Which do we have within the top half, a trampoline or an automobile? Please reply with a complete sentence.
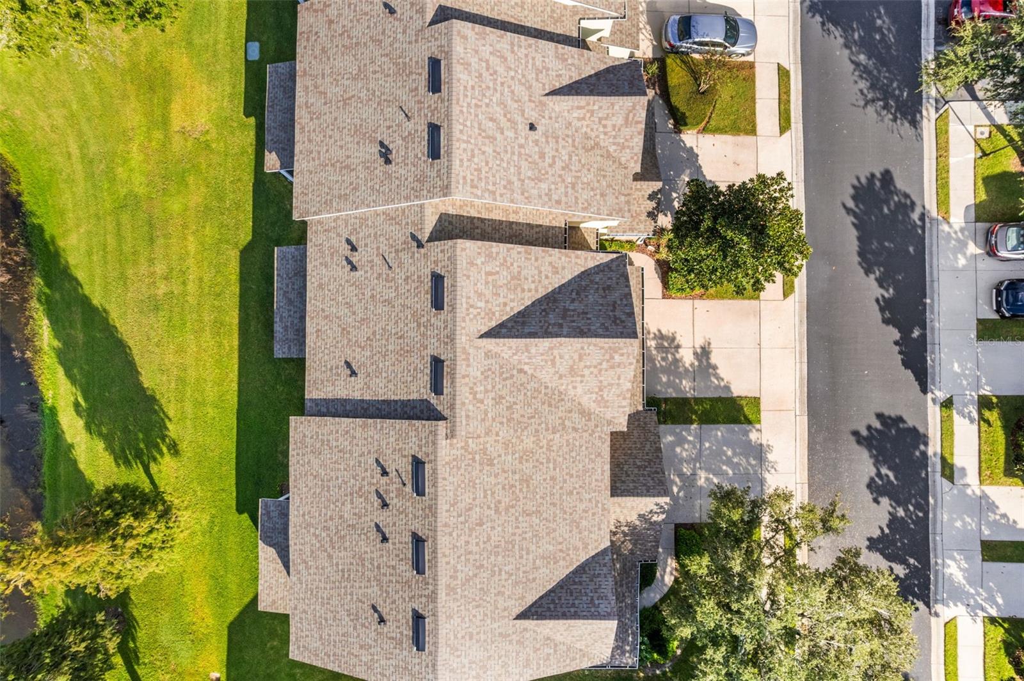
Looking within the top half, you will find an automobile.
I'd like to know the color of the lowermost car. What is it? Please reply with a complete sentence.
In this view, the lowermost car is black.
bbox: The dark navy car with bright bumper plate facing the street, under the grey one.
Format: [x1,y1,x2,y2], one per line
[990,280,1024,319]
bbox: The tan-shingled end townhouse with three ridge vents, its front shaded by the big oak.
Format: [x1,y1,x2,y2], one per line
[257,411,668,681]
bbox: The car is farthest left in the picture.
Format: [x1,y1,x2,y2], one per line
[662,11,757,59]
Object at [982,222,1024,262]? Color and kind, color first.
gray car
